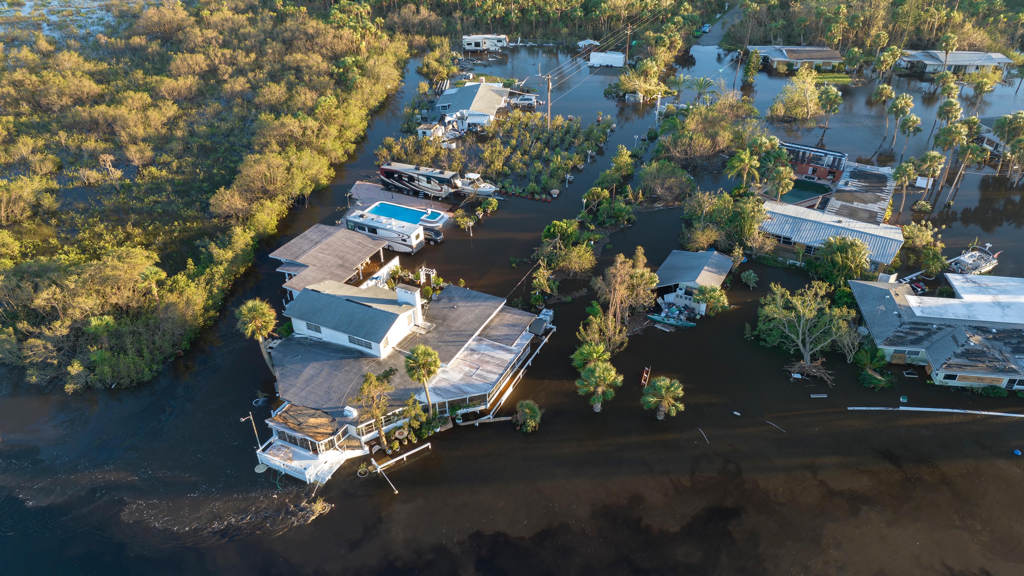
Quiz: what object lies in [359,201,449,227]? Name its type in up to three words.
swimming pool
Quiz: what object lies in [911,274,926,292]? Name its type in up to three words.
boat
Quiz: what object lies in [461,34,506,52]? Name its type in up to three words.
camper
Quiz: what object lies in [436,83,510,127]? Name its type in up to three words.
house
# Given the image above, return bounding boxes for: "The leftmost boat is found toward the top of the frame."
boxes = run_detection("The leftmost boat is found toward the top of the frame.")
[459,175,499,196]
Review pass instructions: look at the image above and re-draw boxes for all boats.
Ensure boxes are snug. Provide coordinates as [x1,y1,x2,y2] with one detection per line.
[459,175,499,196]
[911,274,926,292]
[957,243,1002,275]
[647,313,697,327]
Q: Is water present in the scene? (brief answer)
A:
Yes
